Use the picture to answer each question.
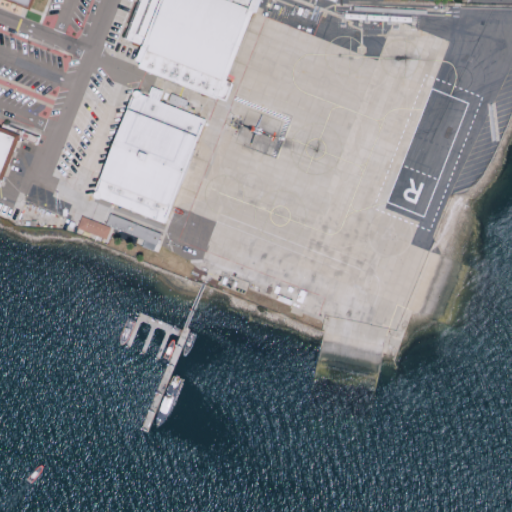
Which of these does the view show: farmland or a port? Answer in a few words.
port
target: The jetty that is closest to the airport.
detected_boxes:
[142,284,204,432]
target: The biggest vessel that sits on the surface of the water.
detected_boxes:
[158,376,184,428]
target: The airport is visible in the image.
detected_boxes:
[160,0,512,358]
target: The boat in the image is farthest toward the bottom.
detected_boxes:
[27,465,44,482]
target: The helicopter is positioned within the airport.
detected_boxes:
[242,114,276,143]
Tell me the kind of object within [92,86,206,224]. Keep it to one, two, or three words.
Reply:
hangar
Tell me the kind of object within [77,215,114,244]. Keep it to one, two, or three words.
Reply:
building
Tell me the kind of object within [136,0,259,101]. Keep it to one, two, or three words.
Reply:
hangar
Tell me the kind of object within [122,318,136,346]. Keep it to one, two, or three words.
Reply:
boat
